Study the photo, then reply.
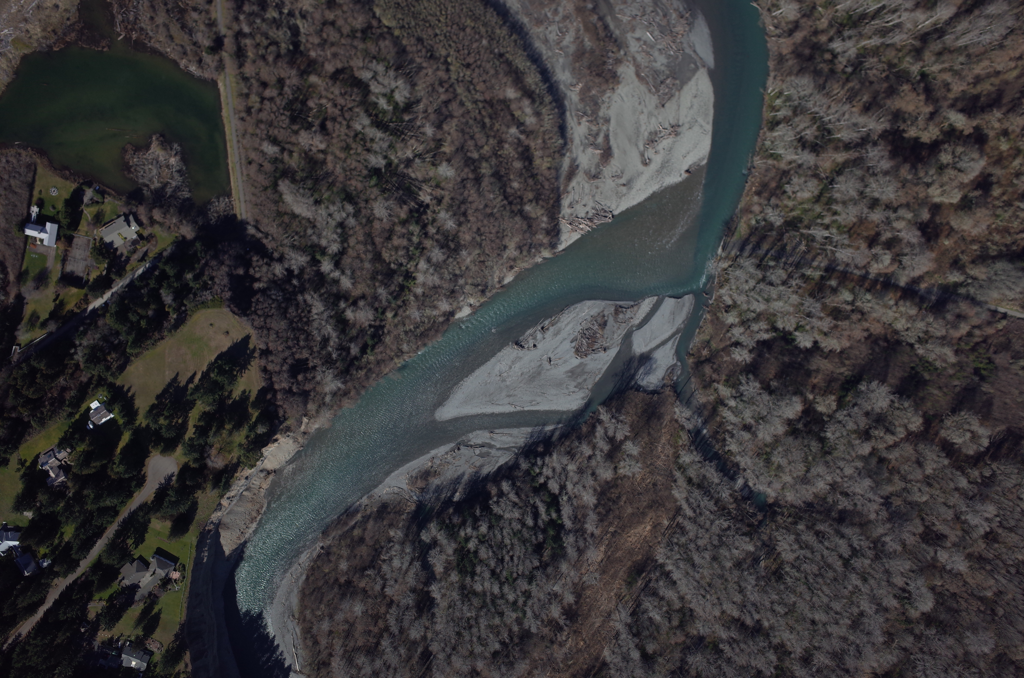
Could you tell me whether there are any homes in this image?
Yes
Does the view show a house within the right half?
No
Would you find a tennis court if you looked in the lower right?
No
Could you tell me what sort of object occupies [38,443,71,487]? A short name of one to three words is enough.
house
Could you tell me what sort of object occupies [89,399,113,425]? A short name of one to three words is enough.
house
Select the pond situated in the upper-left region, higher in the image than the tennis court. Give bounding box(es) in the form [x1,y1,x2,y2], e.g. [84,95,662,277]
[0,0,230,204]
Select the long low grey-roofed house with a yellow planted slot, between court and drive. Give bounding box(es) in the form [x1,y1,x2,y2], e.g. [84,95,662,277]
[99,214,141,247]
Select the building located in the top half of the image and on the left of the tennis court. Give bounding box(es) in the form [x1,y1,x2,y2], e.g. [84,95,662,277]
[23,222,60,247]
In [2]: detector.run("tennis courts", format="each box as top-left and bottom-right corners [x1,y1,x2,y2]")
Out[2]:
[57,234,91,287]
